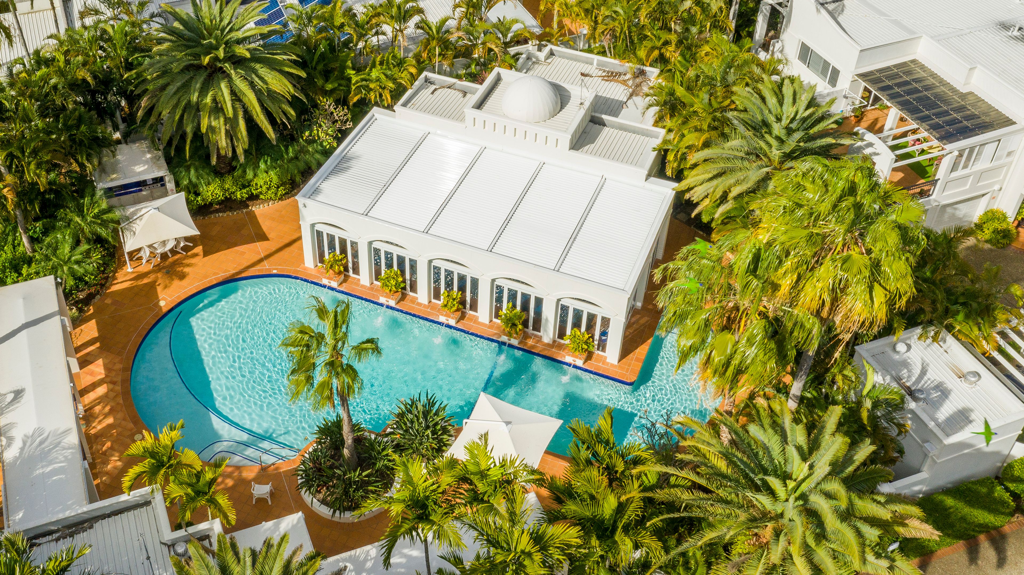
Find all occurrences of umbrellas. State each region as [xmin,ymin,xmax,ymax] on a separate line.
[111,192,200,273]
[445,392,563,491]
